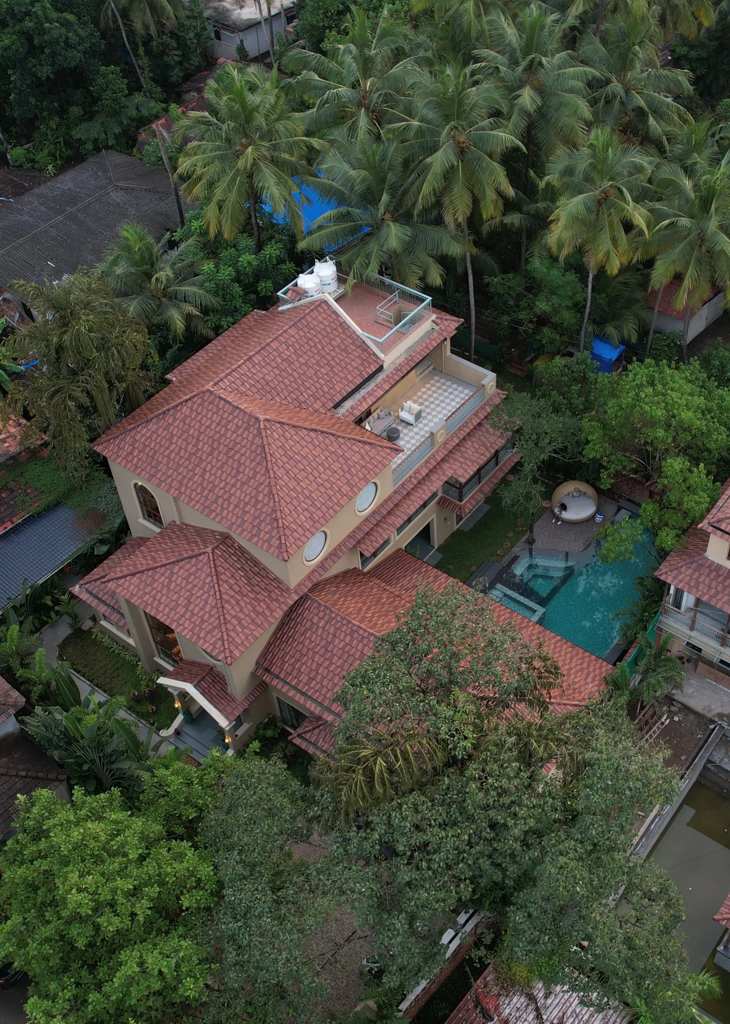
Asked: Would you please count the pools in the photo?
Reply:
1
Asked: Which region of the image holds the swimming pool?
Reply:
right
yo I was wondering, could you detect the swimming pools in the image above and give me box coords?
[473,498,691,660]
